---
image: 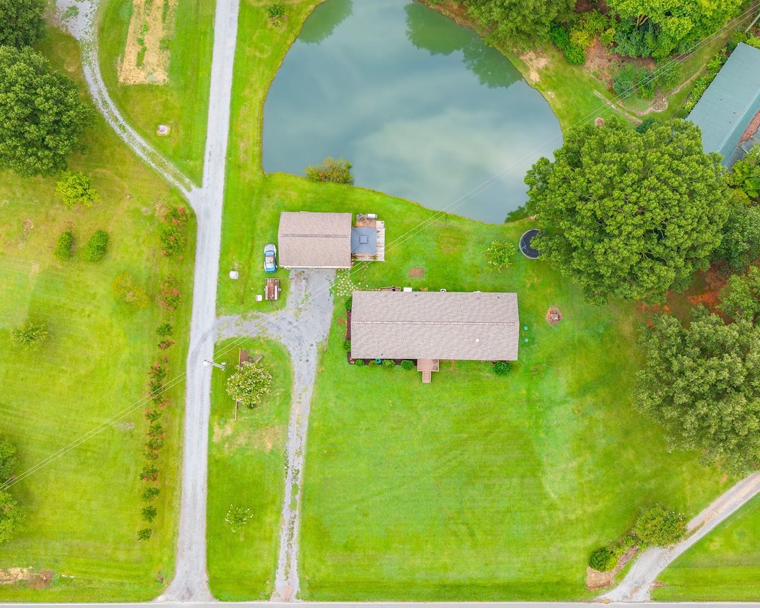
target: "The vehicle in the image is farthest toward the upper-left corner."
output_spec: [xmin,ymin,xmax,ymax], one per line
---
[263,244,278,275]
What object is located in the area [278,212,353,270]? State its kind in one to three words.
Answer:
building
